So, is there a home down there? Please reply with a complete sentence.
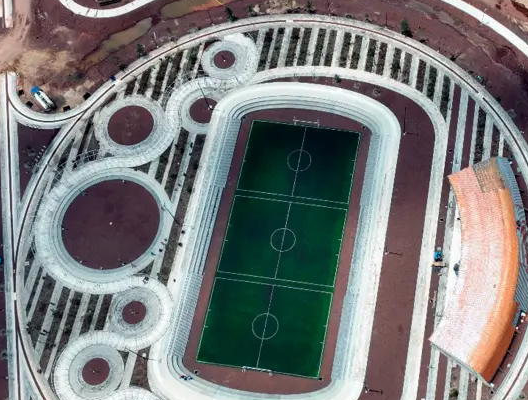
No, there is no home in the image.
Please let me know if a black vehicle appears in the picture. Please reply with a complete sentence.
No, there is no black vehicle in the image.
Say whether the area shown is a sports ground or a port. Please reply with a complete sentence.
The area seen from above is a sports ground.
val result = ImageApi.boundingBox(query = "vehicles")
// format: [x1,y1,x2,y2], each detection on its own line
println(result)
[433,244,443,260]
[26,80,55,111]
